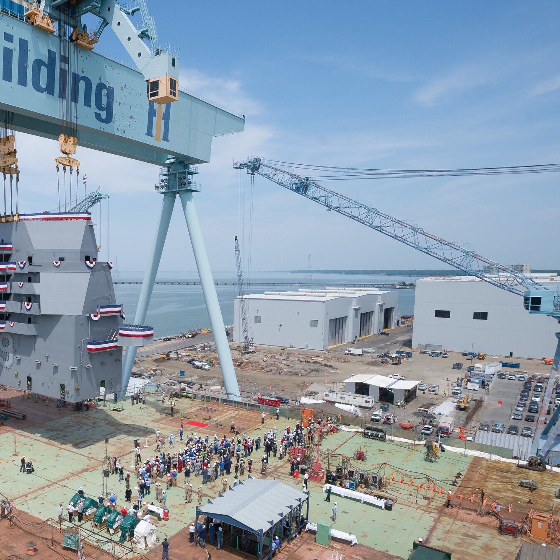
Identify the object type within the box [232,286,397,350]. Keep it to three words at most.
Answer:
building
